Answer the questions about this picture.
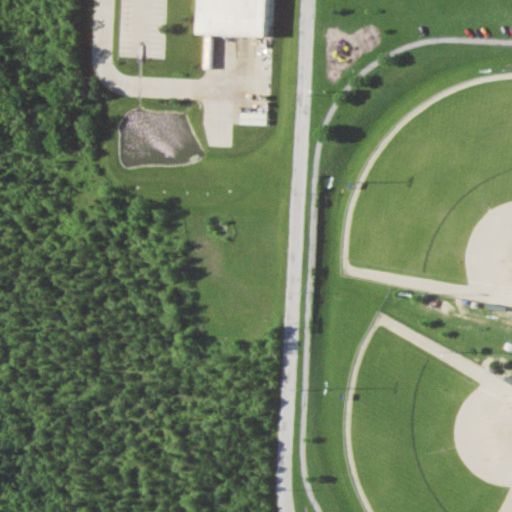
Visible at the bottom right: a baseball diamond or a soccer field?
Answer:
baseball diamond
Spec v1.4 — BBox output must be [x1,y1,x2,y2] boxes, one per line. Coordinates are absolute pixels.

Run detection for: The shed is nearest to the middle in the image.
[240,112,269,126]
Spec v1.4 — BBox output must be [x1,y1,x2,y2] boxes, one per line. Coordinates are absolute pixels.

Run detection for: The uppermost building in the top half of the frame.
[194,0,271,36]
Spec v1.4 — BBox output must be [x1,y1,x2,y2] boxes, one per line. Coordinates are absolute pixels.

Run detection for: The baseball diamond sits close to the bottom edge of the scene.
[346,313,512,512]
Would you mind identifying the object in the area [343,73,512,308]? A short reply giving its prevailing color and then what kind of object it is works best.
green baseball field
